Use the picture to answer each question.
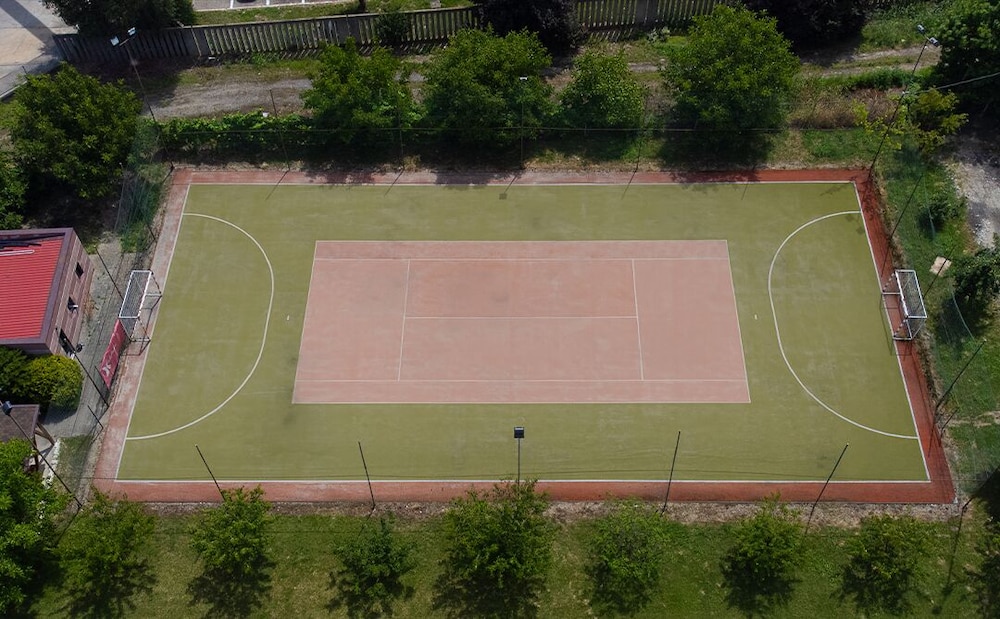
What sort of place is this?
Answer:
sports ground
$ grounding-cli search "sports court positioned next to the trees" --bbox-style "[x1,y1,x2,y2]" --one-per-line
[91,168,954,504]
